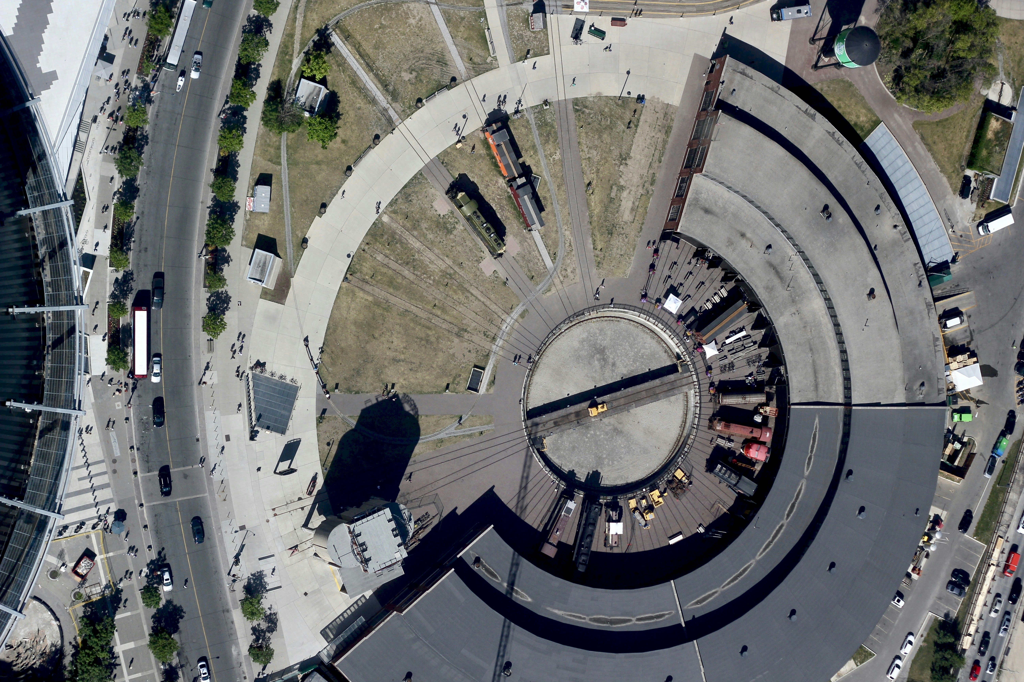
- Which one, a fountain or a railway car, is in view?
railway car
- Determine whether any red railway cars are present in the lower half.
Yes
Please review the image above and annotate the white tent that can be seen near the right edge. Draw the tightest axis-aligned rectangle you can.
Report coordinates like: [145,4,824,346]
[949,363,983,392]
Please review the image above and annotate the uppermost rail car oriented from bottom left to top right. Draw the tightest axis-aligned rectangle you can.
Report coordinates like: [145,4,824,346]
[680,299,748,352]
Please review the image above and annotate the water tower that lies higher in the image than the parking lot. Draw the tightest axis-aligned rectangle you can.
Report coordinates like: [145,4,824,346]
[809,26,882,71]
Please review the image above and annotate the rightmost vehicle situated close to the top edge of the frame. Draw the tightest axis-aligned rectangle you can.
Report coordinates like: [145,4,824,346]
[767,5,811,23]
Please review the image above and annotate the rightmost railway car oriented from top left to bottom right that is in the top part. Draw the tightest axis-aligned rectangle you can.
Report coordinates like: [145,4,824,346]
[446,186,507,259]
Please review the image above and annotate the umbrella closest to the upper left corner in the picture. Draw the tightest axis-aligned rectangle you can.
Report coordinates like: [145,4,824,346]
[91,56,114,80]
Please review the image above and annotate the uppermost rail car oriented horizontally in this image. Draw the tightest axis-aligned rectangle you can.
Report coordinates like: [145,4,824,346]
[704,391,766,406]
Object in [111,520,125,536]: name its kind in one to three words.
umbrella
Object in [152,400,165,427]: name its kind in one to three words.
vehicle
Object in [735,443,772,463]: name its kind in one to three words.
rail car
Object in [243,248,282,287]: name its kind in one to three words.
building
